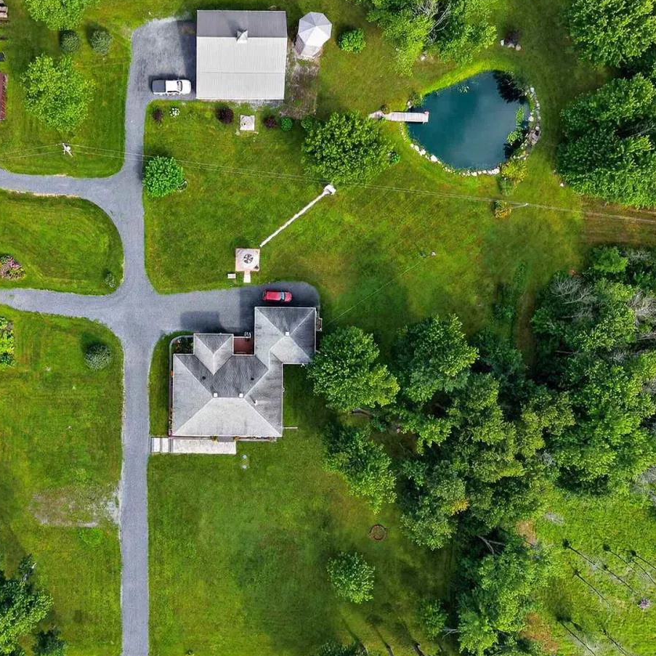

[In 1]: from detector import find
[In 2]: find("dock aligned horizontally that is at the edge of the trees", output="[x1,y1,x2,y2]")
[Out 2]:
[371,111,429,124]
